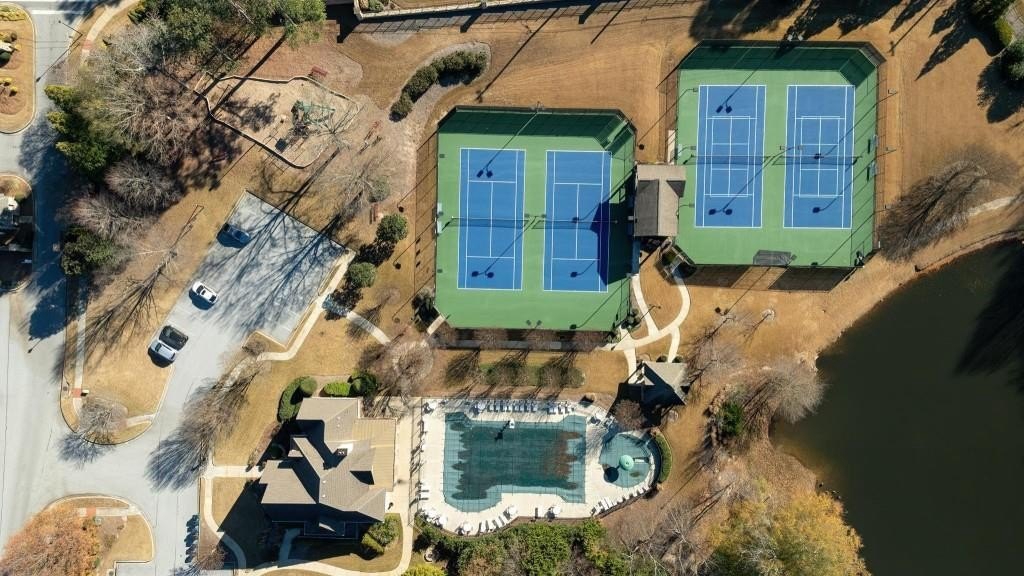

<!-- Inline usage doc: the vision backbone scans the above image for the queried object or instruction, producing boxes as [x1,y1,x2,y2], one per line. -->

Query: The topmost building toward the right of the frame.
[632,165,686,237]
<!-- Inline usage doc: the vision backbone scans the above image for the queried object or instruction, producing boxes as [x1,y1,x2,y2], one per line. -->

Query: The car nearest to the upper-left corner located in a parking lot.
[218,225,247,247]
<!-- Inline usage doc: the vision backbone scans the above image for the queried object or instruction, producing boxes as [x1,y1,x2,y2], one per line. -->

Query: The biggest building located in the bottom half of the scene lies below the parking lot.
[260,398,396,536]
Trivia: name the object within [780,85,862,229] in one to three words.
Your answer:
tennis court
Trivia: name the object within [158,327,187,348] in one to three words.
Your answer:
car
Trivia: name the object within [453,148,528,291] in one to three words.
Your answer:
tennis court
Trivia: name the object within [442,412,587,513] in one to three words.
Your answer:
swimming pool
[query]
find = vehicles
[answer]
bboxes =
[147,343,176,364]
[218,225,247,247]
[158,327,187,348]
[188,284,217,305]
